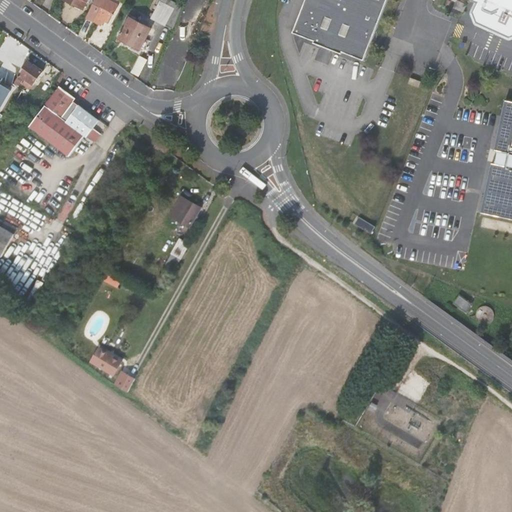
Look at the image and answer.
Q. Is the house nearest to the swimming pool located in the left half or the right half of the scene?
left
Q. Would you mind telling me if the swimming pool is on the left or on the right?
left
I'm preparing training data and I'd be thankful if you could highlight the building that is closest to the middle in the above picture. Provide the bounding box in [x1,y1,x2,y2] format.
[169,196,202,234]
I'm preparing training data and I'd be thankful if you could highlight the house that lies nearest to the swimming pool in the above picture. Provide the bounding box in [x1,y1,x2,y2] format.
[90,348,122,376]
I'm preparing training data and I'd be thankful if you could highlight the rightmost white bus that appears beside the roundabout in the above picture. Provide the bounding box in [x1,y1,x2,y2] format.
[238,167,265,190]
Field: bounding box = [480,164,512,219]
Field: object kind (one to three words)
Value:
building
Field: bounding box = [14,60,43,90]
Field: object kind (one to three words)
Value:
house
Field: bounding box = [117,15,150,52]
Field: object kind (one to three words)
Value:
house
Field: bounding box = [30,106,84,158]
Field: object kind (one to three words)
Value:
building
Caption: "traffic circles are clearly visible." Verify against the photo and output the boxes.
[185,74,283,174]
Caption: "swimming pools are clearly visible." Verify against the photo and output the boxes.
[85,310,110,342]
